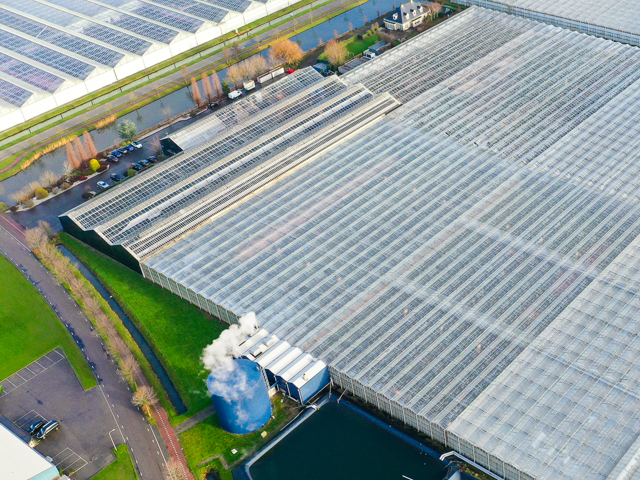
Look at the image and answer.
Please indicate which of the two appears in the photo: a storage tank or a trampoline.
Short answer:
storage tank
